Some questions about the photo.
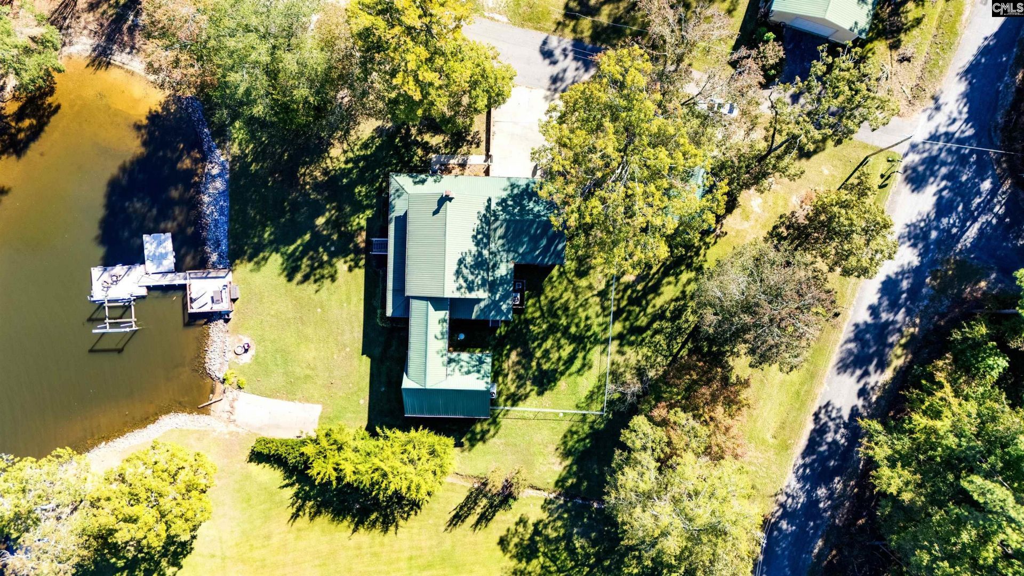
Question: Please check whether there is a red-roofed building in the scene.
No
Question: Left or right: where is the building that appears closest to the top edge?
right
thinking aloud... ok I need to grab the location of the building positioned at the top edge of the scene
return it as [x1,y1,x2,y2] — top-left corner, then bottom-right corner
[768,0,872,46]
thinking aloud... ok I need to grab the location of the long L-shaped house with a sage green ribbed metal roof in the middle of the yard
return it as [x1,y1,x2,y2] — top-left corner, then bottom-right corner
[385,172,565,418]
